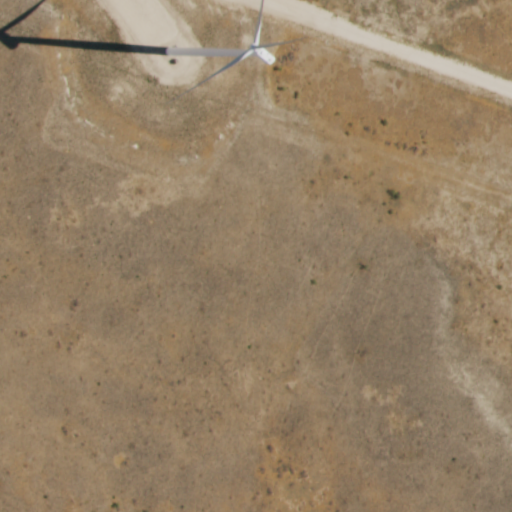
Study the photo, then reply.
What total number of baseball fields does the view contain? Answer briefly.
0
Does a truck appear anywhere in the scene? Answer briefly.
No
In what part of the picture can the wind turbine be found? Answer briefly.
top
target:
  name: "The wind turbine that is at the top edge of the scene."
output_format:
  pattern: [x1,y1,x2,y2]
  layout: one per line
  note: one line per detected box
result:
[164,0,306,103]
